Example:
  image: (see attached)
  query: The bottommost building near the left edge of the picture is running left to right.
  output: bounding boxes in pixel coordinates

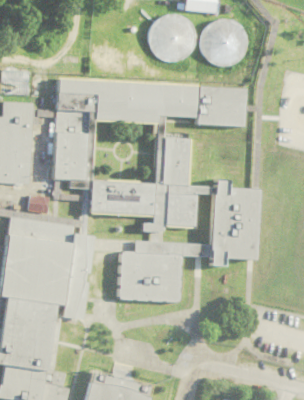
[0,367,71,400]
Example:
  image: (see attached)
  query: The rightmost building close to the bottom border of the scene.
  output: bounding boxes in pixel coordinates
[86,369,154,400]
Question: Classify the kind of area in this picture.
industrial area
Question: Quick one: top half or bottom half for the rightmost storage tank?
top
